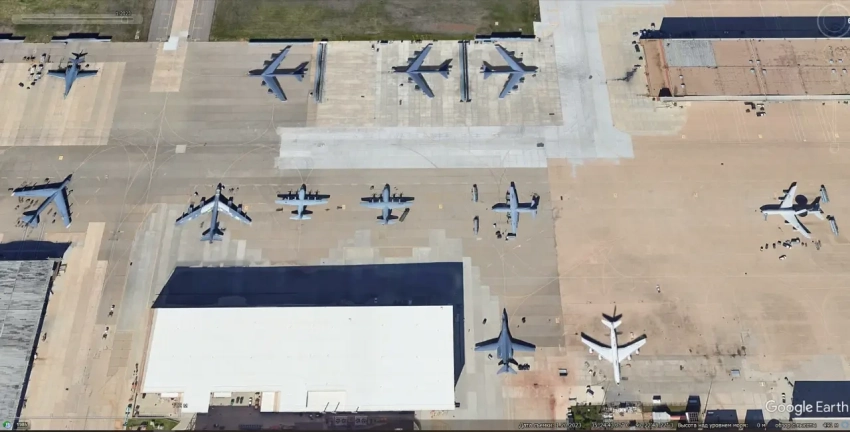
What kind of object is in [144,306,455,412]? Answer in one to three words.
hangar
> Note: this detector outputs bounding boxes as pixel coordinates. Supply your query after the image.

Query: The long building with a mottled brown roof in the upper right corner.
[657,38,850,101]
